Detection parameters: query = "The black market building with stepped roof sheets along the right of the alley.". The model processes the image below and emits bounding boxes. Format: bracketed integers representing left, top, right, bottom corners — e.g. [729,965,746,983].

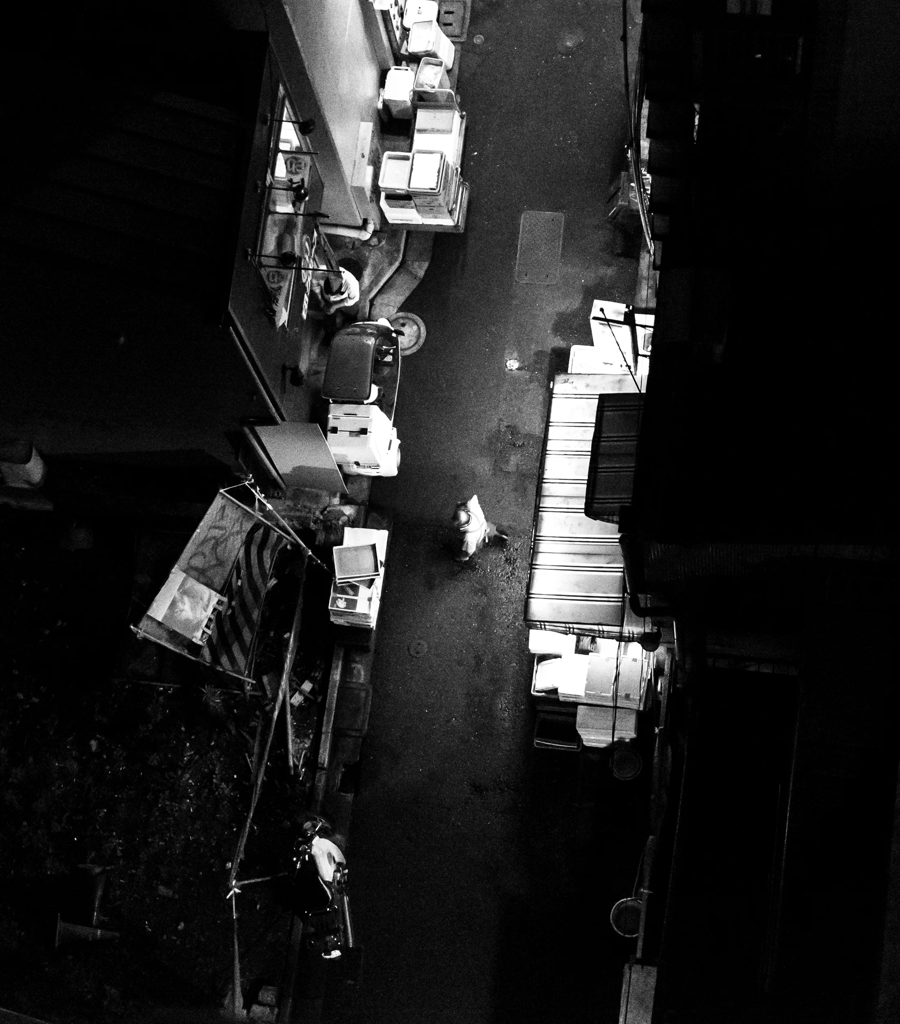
[616,0,900,648]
